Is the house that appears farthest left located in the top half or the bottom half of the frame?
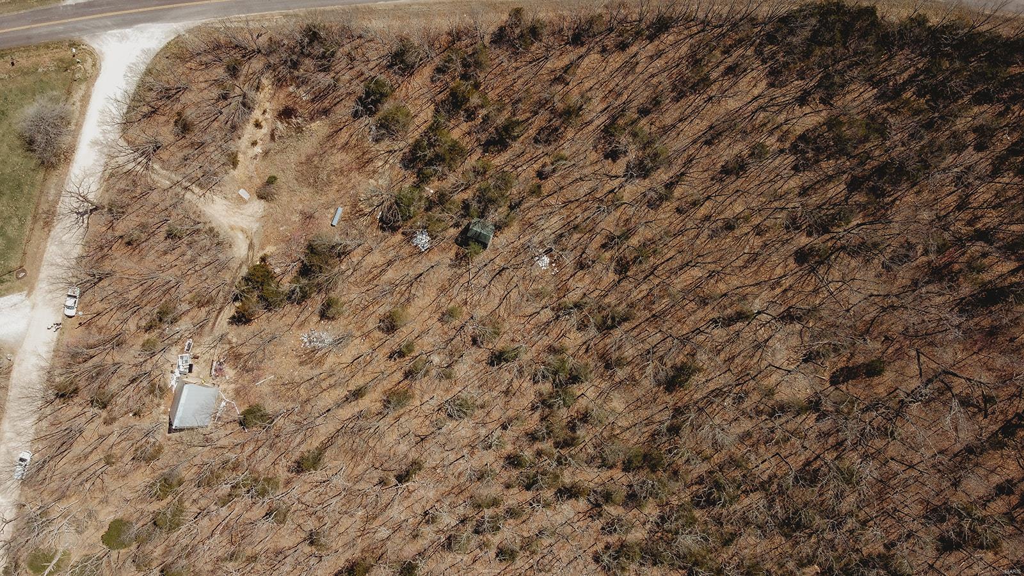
bottom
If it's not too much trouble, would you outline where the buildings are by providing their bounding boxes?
[468,218,496,245]
[169,375,219,428]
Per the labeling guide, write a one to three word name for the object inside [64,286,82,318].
vehicle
